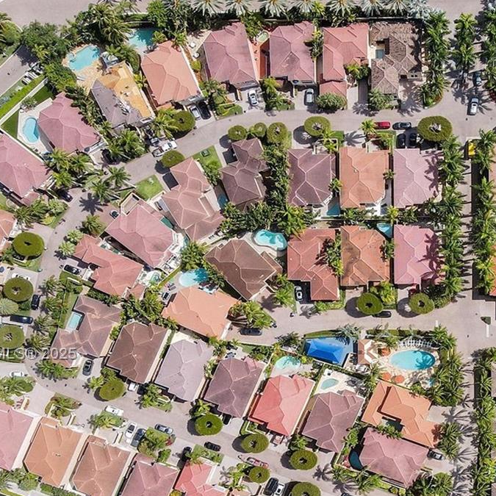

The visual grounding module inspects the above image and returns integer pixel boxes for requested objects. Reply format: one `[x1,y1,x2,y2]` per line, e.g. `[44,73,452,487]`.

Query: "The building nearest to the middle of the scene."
[206,238,285,299]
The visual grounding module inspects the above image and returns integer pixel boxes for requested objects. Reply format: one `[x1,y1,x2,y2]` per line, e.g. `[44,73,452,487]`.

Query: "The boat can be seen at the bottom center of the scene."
[234,451,266,467]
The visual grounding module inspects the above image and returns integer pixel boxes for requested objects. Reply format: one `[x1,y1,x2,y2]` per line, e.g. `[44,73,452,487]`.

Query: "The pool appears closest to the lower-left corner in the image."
[67,310,83,331]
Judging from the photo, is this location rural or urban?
urban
